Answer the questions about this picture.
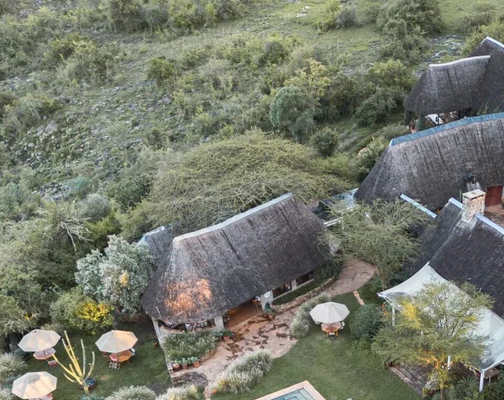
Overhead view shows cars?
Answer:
No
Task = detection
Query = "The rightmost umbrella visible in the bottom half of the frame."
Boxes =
[309,306,349,334]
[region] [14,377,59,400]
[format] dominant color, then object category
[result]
white umbrella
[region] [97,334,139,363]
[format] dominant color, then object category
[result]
white umbrella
